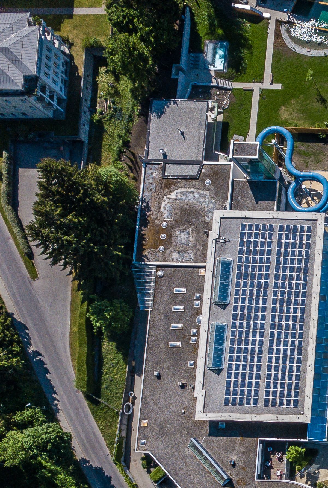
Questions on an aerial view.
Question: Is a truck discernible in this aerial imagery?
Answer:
No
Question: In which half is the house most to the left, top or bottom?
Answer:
top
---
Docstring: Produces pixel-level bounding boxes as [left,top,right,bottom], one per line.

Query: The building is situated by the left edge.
[0,13,65,110]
